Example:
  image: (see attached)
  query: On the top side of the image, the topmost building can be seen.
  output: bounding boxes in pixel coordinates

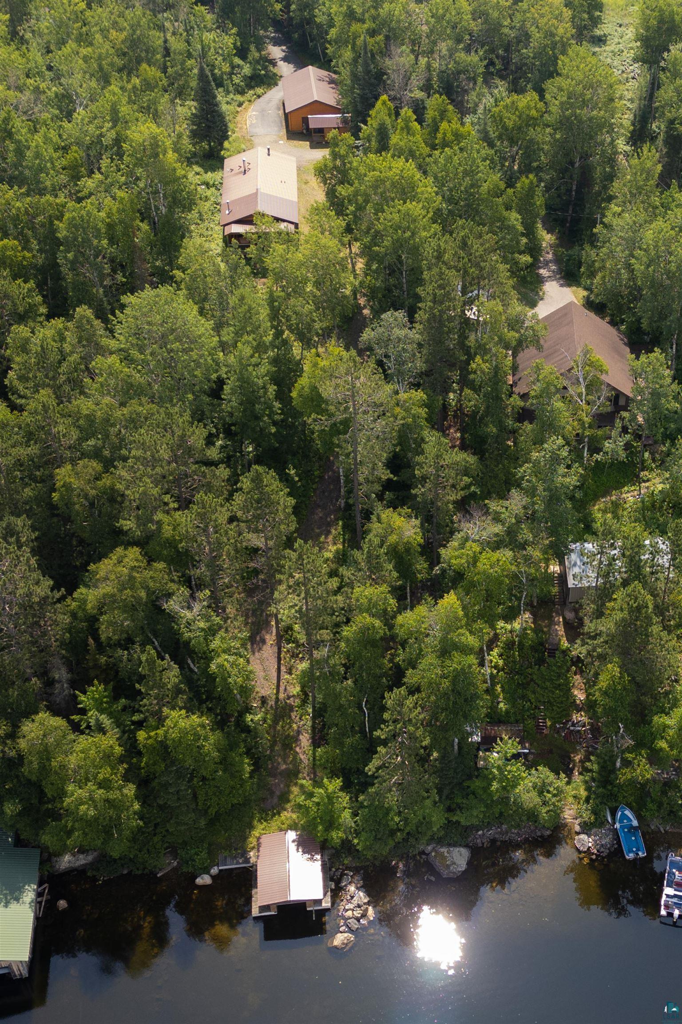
[281,66,351,138]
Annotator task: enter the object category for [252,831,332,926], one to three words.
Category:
building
